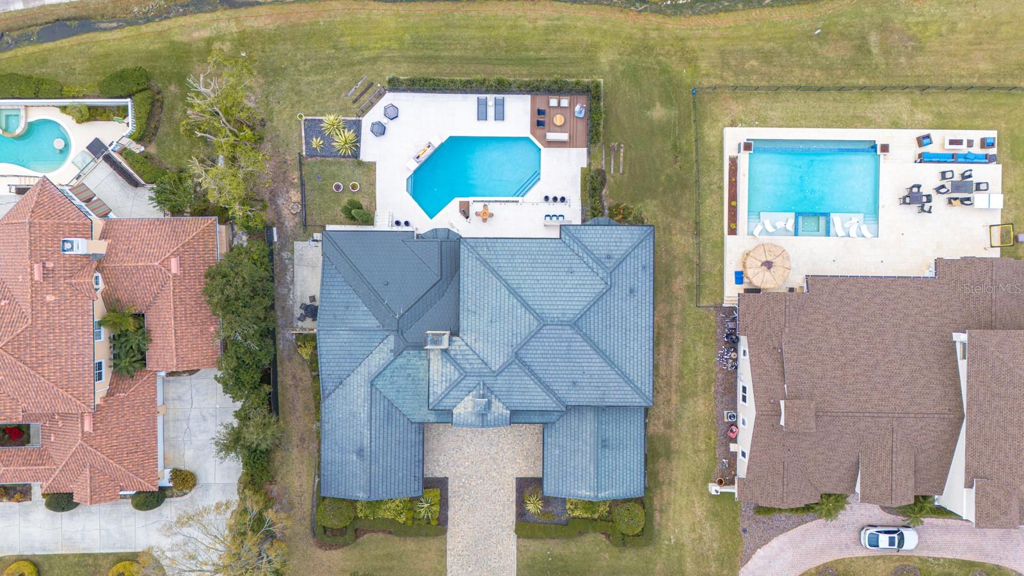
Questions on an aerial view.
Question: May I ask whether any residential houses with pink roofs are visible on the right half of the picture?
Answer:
No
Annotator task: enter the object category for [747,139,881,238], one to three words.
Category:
swimming pool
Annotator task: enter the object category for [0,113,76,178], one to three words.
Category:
swimming pool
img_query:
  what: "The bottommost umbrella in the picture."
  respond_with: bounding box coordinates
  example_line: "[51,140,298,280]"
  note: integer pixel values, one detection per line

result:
[752,242,800,289]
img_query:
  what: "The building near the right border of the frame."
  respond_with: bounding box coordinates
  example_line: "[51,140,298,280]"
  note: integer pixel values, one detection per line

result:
[729,258,1024,529]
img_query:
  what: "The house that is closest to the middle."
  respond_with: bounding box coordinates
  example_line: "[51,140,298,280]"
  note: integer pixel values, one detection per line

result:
[317,217,655,502]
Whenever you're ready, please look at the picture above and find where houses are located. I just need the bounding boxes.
[0,174,232,506]
[729,258,1024,529]
[317,217,655,502]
